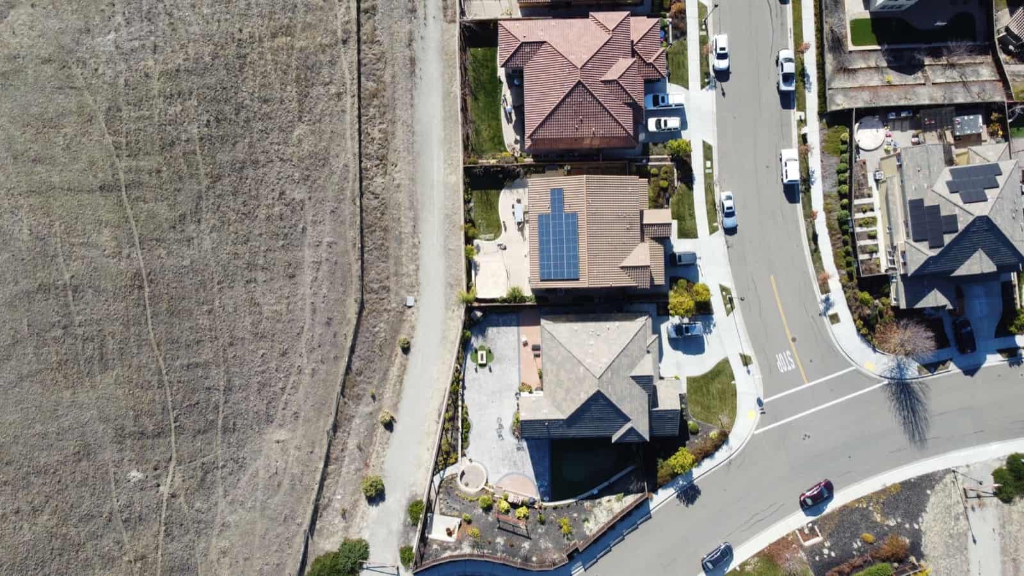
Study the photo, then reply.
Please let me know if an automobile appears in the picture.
Yes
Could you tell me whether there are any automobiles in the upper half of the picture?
Yes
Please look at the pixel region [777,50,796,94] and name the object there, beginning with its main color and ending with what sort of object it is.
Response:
white vehicle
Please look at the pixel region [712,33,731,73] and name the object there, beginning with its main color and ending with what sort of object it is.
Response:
white car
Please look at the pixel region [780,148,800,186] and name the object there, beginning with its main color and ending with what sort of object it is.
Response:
white car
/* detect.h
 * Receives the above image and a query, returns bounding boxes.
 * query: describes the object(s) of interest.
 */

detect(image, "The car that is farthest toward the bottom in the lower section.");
[699,541,734,574]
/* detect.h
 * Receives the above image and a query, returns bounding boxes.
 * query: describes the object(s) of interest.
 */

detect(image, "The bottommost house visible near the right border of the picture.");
[877,142,1024,309]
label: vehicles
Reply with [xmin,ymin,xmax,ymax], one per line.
[666,321,704,339]
[797,479,832,508]
[777,50,796,94]
[719,191,738,230]
[645,91,685,109]
[780,148,800,186]
[665,249,699,266]
[712,33,731,73]
[699,541,734,574]
[646,115,681,133]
